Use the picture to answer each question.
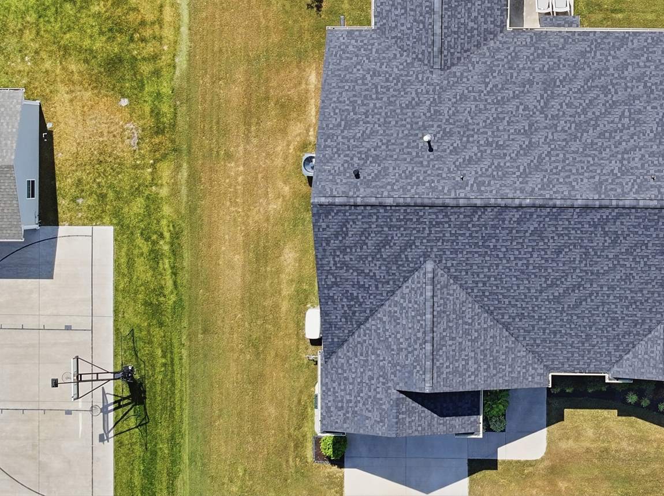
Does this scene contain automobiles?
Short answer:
No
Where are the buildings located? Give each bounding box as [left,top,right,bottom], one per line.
[0,88,46,242]
[311,0,664,437]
